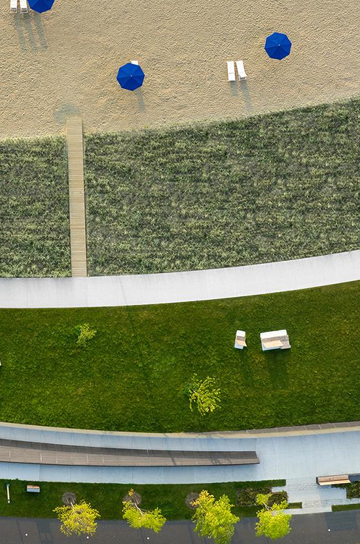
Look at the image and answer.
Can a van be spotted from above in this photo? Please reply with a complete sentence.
No, the scene contains no van.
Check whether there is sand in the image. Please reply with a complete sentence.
Yes, sand can be seen from above here.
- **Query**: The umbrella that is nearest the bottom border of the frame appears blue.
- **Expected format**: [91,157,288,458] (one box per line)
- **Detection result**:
[117,63,144,91]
